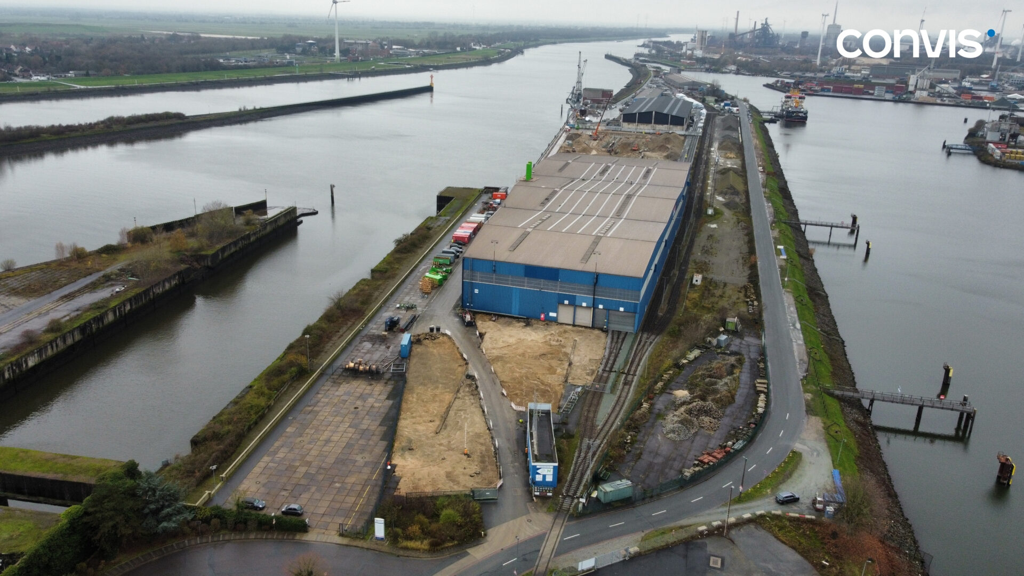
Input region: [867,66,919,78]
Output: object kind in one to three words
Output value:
building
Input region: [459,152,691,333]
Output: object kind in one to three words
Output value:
warehouse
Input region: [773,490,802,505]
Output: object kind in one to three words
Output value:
car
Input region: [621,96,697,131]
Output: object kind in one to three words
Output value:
building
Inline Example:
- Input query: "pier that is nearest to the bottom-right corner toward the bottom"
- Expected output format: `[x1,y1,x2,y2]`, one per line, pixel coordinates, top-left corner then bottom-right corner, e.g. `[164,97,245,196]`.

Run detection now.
[824,384,978,444]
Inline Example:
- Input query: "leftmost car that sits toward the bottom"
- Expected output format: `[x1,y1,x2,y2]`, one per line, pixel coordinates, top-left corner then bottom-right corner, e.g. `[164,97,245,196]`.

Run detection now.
[238,497,265,511]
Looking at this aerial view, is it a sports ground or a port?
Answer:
port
